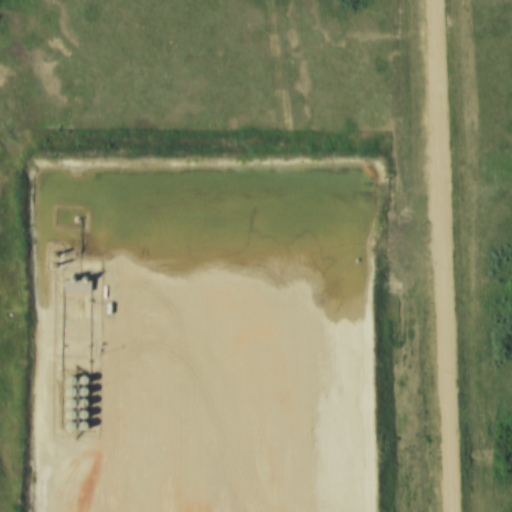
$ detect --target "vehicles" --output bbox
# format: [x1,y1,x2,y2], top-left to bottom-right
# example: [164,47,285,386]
[106,302,112,316]
[102,286,108,300]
